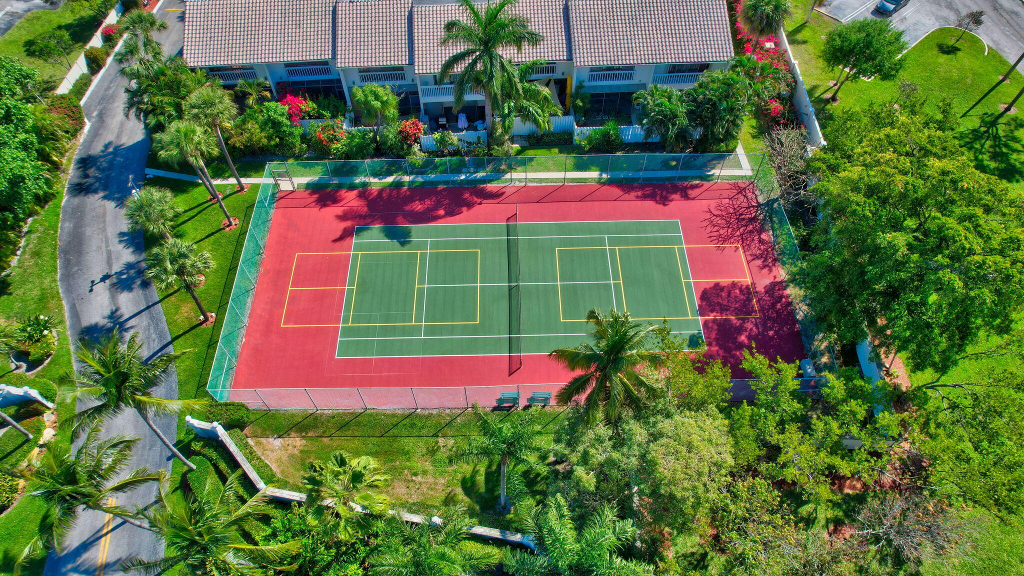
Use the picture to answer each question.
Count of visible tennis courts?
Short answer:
1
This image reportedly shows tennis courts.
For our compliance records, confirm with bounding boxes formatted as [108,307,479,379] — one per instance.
[229,180,813,411]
